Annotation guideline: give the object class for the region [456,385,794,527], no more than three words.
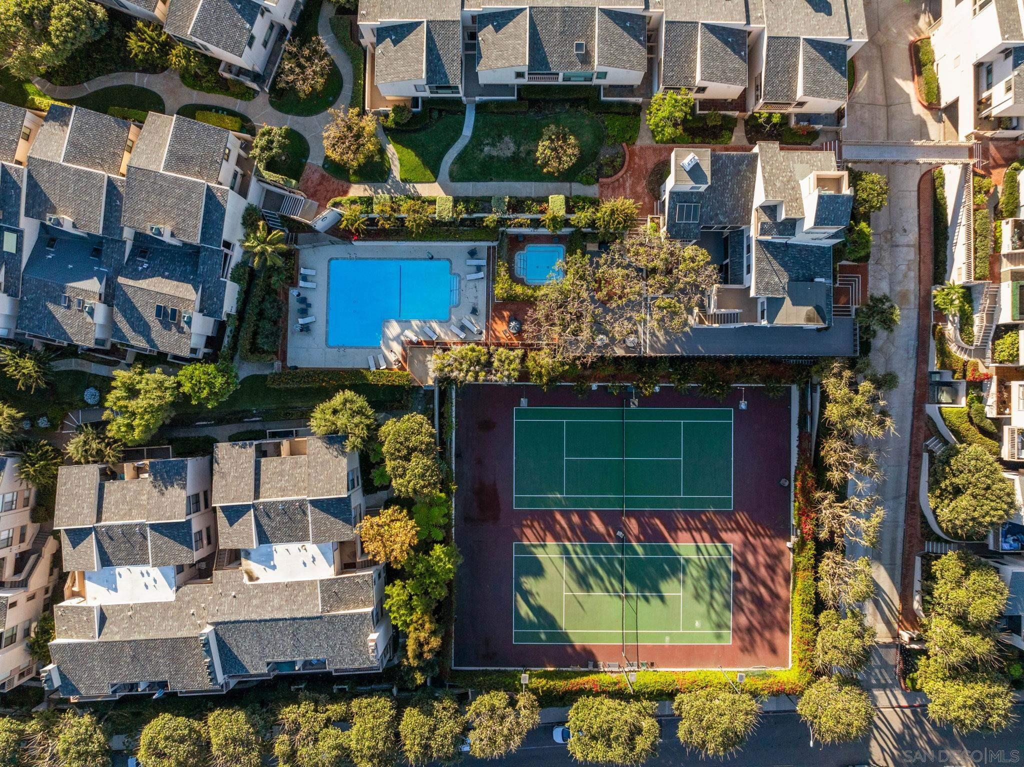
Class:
tennis court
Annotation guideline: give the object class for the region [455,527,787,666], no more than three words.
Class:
tennis court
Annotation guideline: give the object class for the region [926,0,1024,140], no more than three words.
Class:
house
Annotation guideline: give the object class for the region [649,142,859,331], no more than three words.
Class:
building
